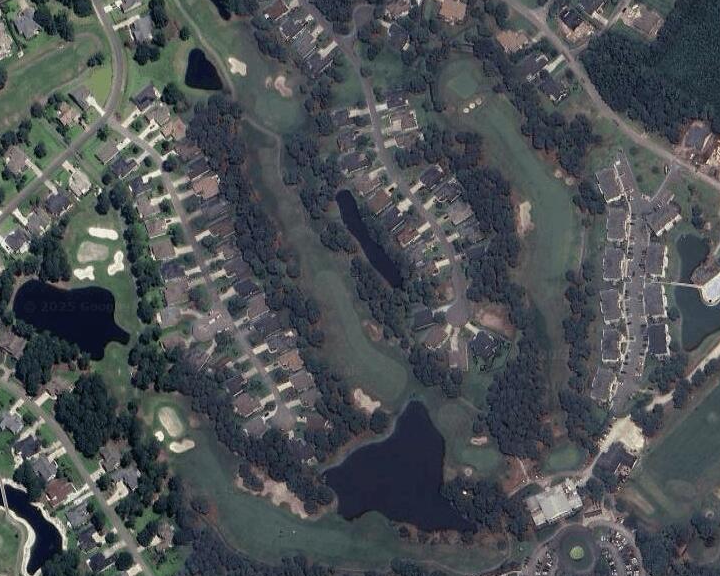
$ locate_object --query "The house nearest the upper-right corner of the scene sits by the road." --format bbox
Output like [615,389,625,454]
[625,7,658,39]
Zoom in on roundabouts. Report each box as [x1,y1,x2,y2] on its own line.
[554,528,601,575]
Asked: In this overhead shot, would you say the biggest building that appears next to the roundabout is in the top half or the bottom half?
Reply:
bottom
